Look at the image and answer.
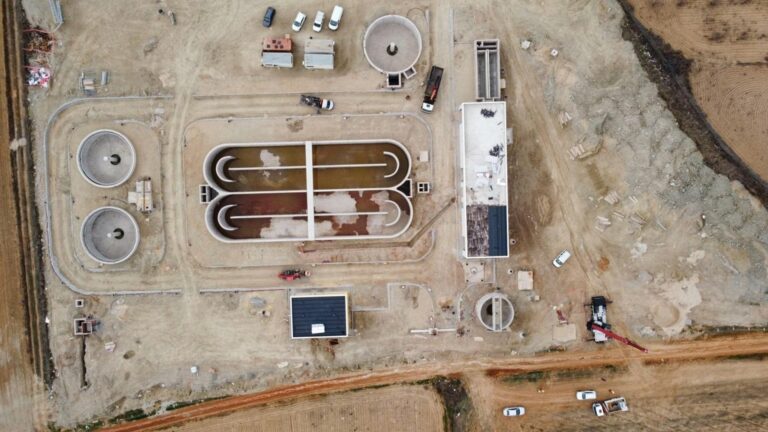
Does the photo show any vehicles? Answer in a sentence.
Yes, the picture does show a vehicle.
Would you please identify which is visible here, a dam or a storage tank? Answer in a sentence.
There is a storage tank in the scene.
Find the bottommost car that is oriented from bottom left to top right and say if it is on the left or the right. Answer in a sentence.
The bottommost car that is oriented from bottom left to top right appears in the right half of the scene.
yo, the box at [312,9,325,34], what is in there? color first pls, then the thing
white vehicle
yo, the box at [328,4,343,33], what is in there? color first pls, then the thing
white vehicle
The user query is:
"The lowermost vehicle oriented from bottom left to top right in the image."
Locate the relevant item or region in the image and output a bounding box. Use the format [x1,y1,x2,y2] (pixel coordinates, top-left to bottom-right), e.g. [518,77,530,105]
[551,248,572,268]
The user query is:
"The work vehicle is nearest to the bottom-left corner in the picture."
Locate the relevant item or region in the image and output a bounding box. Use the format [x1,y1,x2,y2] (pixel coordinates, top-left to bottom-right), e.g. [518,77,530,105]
[276,268,304,280]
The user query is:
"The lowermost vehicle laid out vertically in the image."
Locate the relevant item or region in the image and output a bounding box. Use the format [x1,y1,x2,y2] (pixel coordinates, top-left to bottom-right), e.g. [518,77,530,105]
[421,65,444,115]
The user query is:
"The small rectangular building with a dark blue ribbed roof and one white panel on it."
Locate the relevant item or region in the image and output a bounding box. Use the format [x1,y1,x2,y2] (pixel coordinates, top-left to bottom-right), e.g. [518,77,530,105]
[290,292,350,338]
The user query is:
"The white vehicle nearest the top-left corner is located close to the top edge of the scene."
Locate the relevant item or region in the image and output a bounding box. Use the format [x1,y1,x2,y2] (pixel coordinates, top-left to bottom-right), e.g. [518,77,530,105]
[292,11,307,32]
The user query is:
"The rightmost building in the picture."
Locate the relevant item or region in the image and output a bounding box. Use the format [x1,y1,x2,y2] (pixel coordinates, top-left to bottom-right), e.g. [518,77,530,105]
[458,101,510,258]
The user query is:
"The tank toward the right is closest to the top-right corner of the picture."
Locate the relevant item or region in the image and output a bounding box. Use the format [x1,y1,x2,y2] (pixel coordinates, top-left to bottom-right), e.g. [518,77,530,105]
[474,39,505,102]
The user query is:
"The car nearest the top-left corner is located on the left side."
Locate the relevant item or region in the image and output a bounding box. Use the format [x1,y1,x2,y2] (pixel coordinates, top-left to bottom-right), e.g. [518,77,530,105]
[262,6,277,28]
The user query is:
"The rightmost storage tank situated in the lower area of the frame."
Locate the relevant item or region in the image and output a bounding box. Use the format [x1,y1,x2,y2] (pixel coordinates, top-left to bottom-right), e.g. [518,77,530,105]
[476,292,514,332]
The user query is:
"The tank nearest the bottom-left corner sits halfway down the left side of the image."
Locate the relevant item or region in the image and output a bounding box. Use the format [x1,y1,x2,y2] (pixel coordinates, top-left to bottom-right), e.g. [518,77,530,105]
[81,206,142,265]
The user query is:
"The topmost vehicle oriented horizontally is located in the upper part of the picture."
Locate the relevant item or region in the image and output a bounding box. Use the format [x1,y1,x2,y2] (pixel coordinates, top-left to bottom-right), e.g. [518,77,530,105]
[300,94,337,115]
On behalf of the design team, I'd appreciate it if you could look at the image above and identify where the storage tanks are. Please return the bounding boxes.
[474,39,505,102]
[81,206,142,265]
[364,14,422,74]
[476,292,514,332]
[77,129,139,188]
